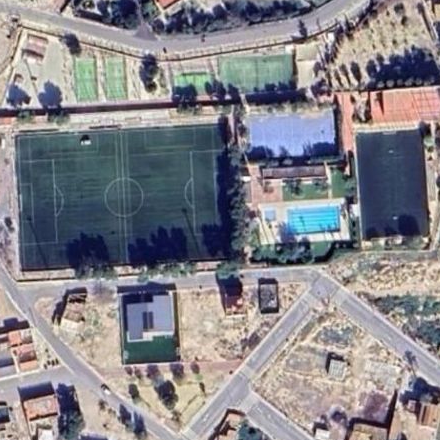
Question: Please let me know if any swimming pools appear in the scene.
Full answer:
Yes, this view includes a swimming pool.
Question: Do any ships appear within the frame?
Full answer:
No, there isn't any ship down there.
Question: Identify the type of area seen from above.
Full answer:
This looks like a sports ground.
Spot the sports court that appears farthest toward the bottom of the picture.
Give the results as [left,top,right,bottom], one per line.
[248,110,337,158]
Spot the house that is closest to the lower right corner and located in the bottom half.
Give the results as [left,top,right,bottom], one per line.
[407,401,440,429]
